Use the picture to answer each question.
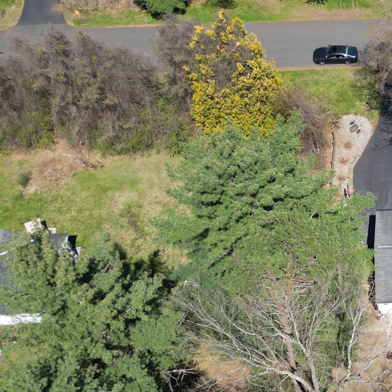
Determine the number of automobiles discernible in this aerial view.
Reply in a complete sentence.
Just 1 automobile appears in this view.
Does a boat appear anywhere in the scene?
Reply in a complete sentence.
No, there isn't any boat down there.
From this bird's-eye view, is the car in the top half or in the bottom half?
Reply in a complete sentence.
Seen from above, the car lies in the top half of the view.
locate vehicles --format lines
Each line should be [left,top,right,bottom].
[310,43,359,64]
